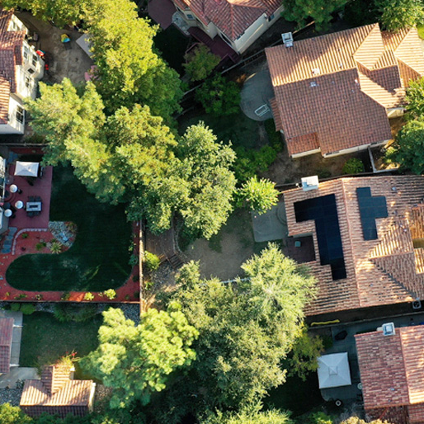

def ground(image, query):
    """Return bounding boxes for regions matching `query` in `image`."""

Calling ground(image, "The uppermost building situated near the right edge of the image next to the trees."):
[264,22,424,159]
